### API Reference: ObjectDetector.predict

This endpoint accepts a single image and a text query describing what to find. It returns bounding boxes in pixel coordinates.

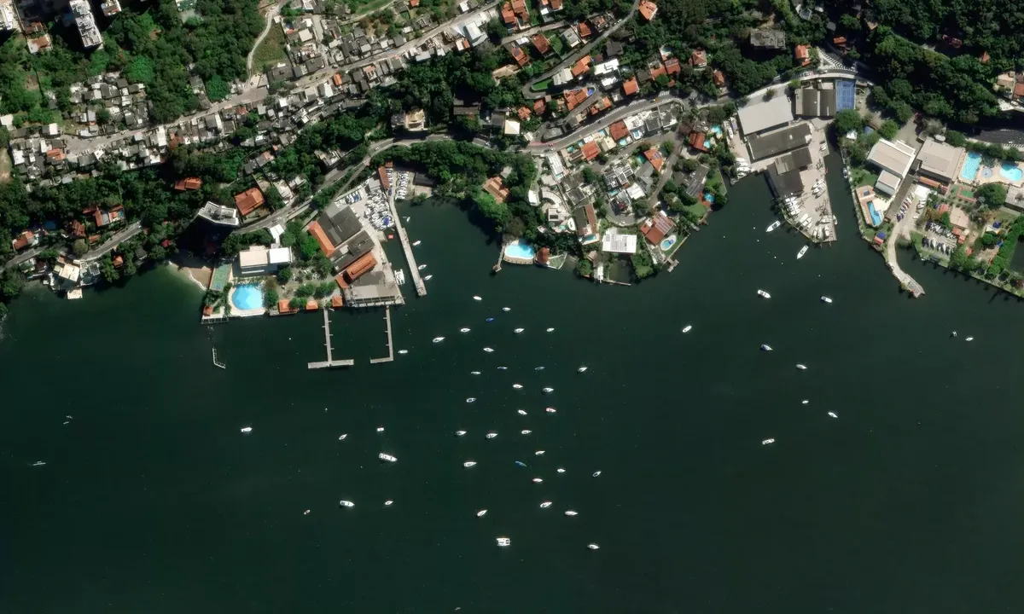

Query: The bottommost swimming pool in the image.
[232,283,264,311]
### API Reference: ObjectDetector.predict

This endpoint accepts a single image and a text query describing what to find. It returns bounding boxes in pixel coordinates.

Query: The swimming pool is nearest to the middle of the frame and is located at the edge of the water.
[504,239,535,258]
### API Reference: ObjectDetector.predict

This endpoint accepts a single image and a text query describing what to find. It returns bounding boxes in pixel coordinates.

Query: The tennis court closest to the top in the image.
[836,80,855,112]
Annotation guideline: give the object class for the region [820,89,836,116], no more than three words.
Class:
hangar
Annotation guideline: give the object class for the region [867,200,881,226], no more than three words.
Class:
swimming pool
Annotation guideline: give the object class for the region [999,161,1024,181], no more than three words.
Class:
swimming pool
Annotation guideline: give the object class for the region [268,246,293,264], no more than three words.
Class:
building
